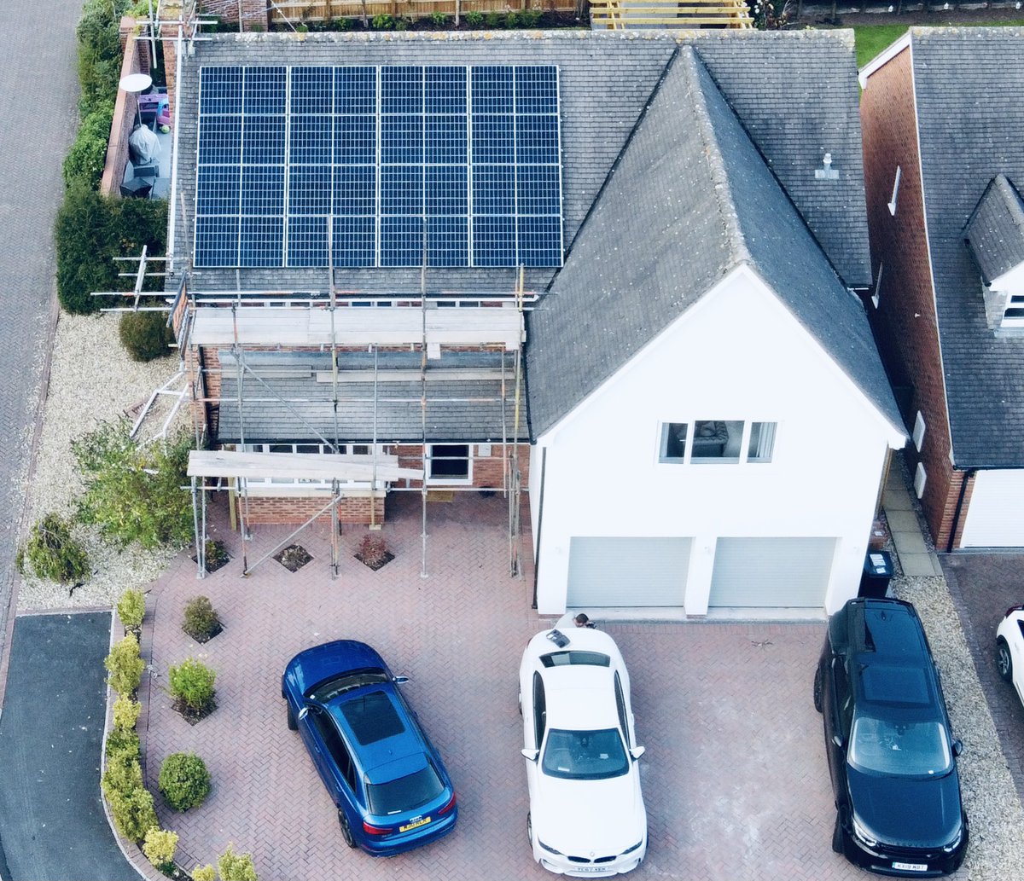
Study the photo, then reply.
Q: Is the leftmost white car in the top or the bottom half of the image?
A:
bottom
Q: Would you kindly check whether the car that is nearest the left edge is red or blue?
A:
blue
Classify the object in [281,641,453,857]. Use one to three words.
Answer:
car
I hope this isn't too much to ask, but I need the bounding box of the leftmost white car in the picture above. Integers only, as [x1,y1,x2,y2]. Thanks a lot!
[517,625,650,879]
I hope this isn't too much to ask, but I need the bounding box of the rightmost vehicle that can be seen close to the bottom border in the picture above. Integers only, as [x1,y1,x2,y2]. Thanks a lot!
[809,597,975,873]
